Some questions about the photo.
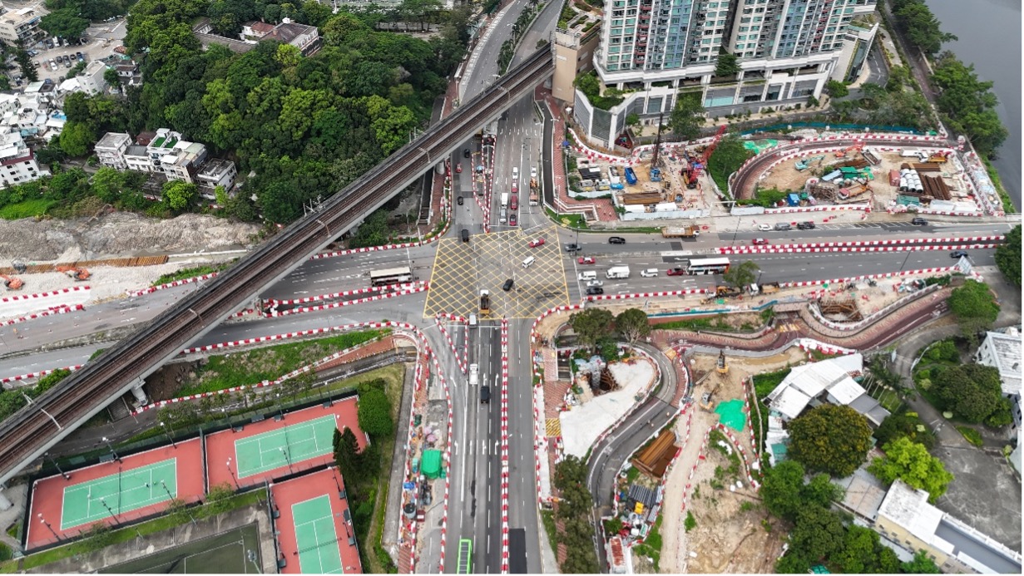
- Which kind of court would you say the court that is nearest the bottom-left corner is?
tennis court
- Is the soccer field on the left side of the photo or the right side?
left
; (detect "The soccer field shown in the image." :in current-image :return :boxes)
[98,523,264,576]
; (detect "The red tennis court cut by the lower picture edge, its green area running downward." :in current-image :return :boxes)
[265,458,364,576]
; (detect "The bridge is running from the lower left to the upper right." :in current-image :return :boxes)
[0,44,552,492]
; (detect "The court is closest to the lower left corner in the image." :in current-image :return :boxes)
[16,428,206,551]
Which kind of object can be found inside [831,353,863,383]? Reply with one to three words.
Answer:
shed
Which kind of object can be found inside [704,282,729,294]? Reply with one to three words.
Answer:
vehicle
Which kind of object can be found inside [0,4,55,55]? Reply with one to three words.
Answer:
building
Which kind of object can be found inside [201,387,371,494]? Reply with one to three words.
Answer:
tennis court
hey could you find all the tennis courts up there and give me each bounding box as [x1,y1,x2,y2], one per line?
[201,387,371,494]
[16,428,206,551]
[265,458,364,576]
